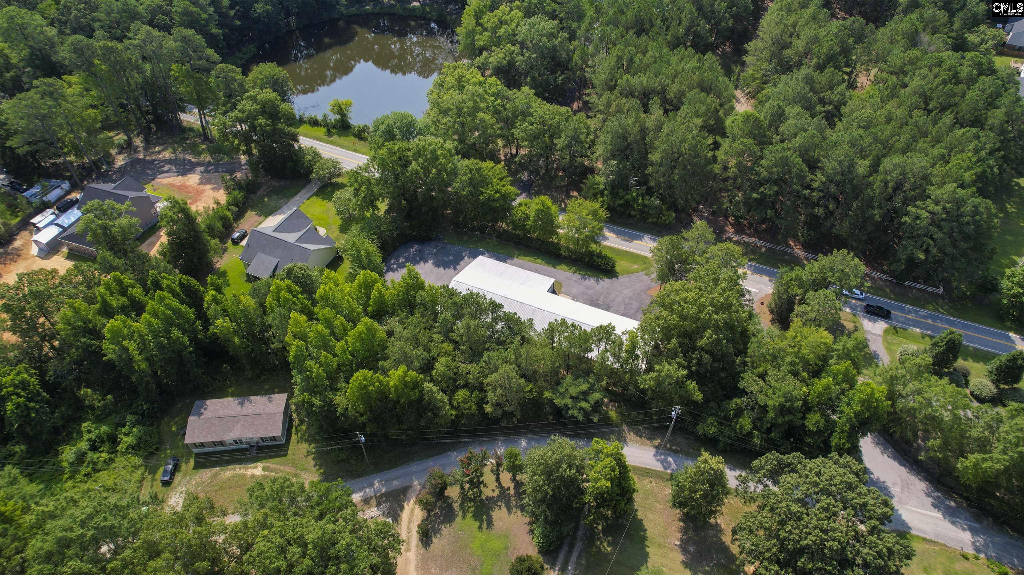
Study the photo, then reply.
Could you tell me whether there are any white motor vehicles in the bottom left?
No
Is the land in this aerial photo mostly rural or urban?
rural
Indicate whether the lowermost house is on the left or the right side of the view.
left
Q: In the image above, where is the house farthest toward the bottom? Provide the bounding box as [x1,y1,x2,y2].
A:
[181,395,295,454]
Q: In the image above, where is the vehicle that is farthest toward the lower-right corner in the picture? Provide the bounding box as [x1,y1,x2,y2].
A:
[862,303,893,320]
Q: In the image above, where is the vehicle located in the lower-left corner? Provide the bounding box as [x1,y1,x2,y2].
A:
[161,459,178,485]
